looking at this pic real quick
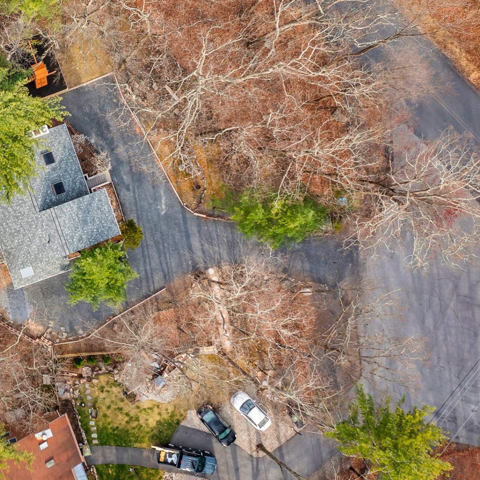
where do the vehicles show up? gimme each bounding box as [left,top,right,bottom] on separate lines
[228,386,278,440]
[149,448,223,480]
[196,405,242,453]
